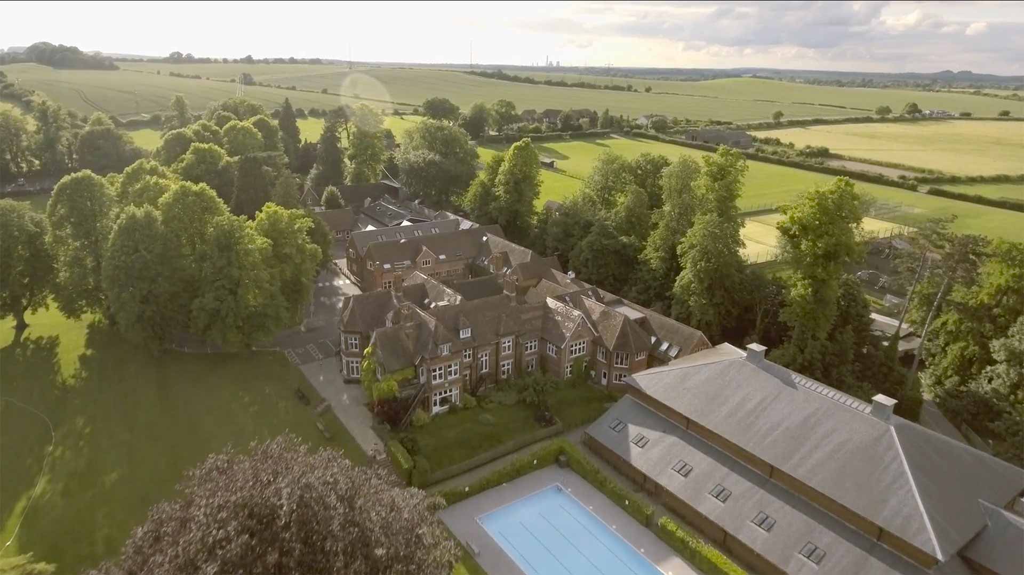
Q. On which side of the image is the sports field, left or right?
right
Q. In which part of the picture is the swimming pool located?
bottom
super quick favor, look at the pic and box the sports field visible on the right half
[473,135,1024,251]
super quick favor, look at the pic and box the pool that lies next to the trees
[471,477,668,575]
